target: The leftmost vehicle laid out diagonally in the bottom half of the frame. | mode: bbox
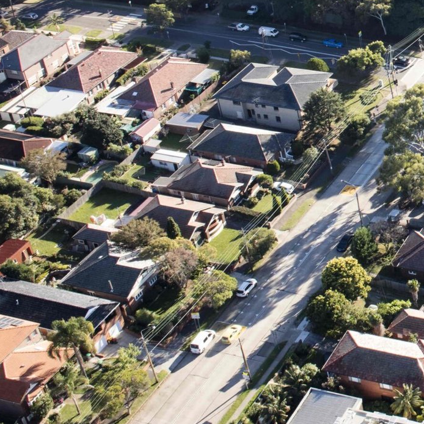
[189,325,216,356]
